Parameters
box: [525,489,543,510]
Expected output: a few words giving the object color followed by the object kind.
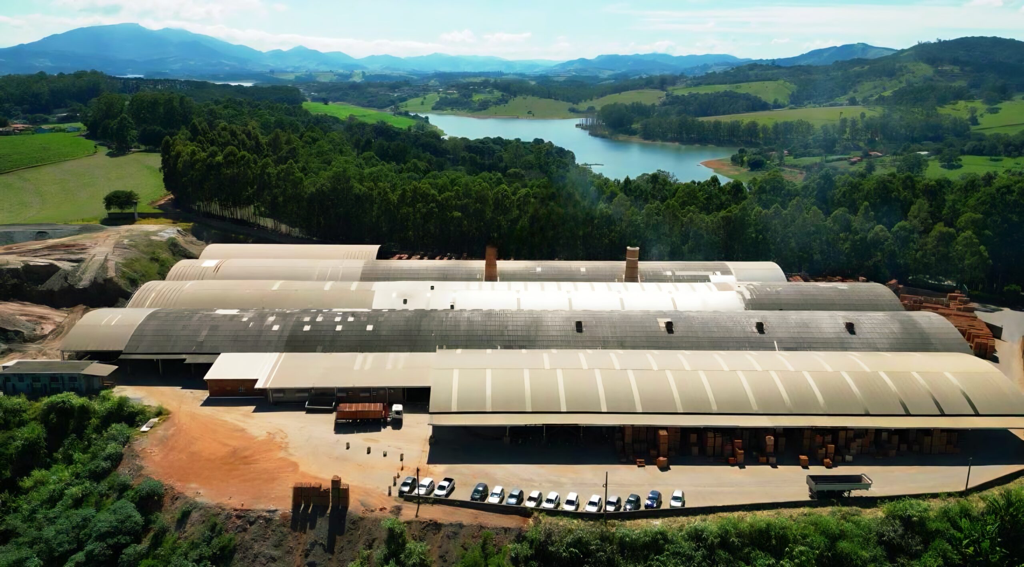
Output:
white car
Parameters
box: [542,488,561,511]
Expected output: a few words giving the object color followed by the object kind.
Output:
white car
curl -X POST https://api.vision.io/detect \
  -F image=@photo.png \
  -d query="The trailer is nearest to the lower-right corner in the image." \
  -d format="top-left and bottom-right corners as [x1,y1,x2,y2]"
[808,475,874,502]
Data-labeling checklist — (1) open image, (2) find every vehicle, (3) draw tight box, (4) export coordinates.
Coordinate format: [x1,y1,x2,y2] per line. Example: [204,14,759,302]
[606,493,622,514]
[645,487,662,512]
[542,488,561,511]
[334,404,404,428]
[624,490,641,514]
[669,489,685,510]
[525,489,543,510]
[415,475,437,499]
[486,482,507,506]
[468,480,490,503]
[562,493,580,513]
[433,476,456,499]
[506,487,524,507]
[397,475,419,497]
[585,493,602,514]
